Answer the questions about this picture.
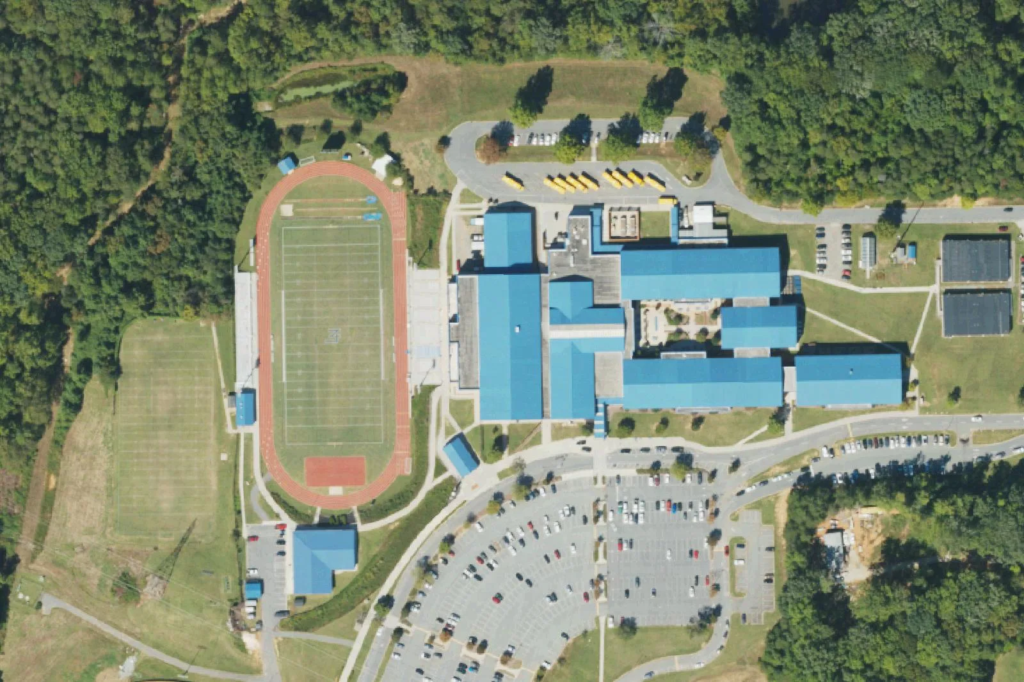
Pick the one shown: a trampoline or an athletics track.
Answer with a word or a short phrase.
athletics track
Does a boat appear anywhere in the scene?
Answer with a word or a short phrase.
No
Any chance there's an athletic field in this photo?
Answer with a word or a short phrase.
Yes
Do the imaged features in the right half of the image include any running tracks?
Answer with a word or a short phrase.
No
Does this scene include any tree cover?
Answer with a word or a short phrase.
Yes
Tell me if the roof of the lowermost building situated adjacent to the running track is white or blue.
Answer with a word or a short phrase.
blue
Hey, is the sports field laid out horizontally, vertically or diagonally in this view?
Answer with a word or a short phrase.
vertically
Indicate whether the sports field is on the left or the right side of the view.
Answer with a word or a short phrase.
left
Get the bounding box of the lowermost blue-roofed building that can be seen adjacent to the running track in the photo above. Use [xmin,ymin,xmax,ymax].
[293,530,356,595]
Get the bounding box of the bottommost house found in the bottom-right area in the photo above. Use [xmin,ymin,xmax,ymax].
[825,532,845,564]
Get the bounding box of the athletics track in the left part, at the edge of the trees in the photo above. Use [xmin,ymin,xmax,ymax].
[257,161,410,511]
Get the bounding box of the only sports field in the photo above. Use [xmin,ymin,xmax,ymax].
[271,175,395,497]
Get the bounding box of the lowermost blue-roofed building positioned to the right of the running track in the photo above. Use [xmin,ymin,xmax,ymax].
[443,438,479,477]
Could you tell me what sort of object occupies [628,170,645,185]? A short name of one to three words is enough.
vehicle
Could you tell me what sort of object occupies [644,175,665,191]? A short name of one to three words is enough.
vehicle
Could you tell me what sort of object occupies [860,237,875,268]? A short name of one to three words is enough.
greenhouse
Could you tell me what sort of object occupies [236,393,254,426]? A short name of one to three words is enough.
building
